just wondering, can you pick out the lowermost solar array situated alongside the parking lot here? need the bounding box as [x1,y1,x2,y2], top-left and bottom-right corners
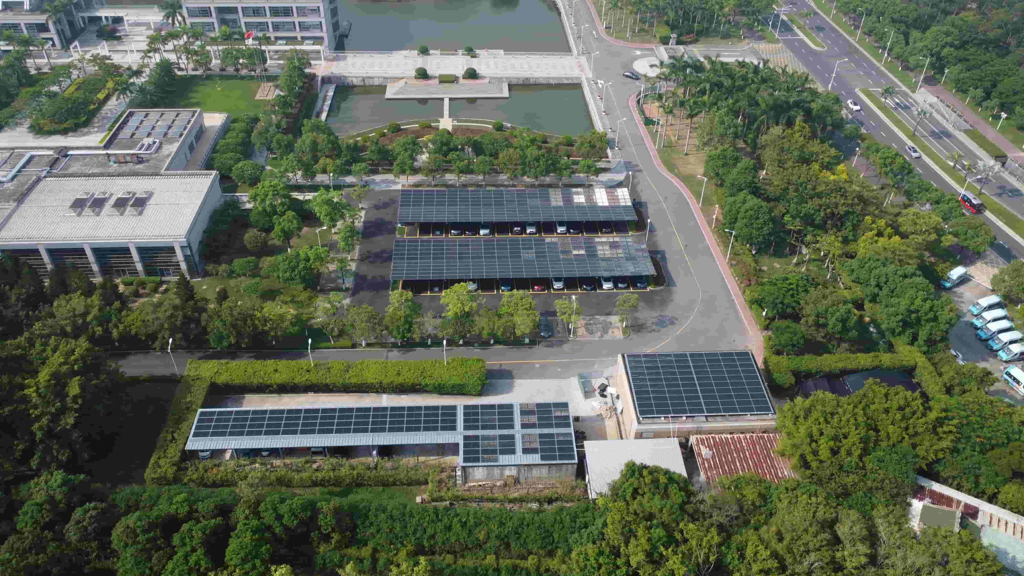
[624,351,776,418]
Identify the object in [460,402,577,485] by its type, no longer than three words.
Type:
shed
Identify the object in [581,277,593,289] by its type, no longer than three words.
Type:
vehicle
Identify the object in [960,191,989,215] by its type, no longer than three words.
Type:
vehicle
